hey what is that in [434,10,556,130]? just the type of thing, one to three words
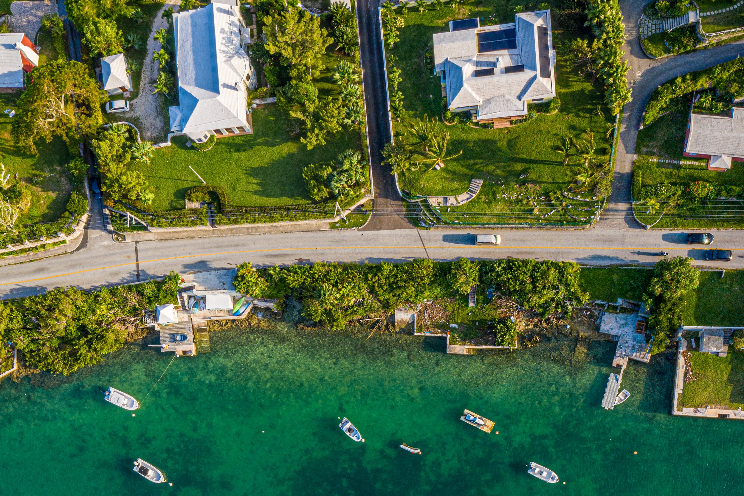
house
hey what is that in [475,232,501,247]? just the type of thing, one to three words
car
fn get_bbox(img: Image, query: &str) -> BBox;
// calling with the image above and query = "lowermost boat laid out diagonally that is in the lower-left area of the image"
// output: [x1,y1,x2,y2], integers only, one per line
[132,458,166,483]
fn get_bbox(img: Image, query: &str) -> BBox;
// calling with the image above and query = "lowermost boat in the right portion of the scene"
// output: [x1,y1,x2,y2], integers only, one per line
[525,462,559,483]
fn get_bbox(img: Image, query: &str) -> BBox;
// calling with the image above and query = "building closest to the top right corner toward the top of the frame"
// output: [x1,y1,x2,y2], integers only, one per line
[685,107,744,175]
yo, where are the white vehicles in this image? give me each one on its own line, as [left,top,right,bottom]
[107,101,129,114]
[475,232,501,247]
